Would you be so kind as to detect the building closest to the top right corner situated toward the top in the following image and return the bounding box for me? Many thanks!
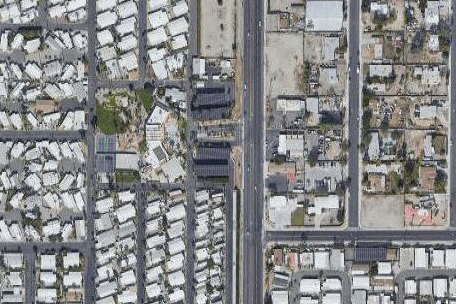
[425,0,439,28]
